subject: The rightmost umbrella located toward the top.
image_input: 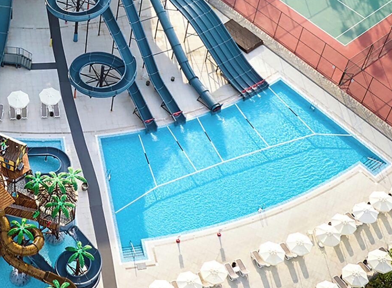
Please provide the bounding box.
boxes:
[40,90,61,114]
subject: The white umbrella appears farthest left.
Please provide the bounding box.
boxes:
[7,94,30,116]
